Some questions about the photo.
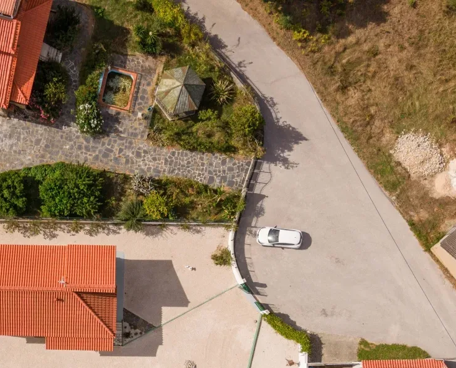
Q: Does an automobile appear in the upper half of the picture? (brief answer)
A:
No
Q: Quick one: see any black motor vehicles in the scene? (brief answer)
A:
No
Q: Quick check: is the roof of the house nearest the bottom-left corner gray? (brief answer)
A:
No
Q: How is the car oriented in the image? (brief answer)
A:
from left to right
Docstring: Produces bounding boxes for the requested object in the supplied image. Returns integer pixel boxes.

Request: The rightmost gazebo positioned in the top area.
[153,67,205,124]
